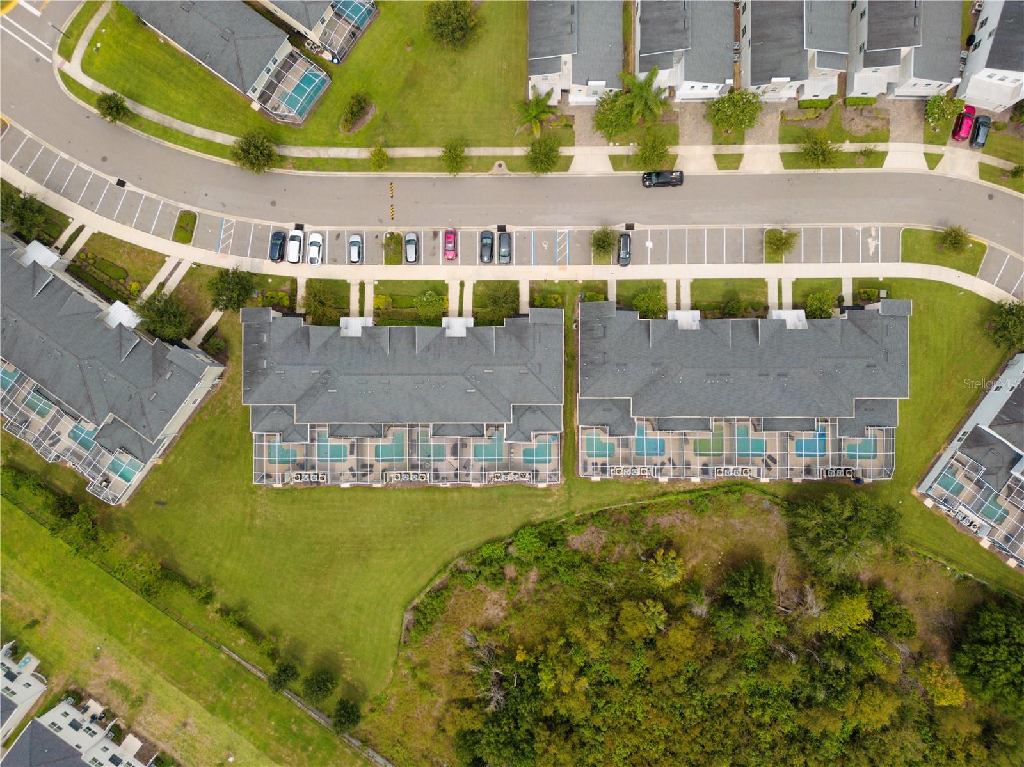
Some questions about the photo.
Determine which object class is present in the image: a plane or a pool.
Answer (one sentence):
I can see a pool in this picture.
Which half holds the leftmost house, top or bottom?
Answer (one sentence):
The leftmost house is in the bottom half of the image.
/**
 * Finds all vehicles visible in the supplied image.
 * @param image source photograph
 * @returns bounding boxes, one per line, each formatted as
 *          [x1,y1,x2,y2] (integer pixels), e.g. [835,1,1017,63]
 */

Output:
[954,105,979,141]
[479,229,494,263]
[402,230,417,263]
[306,232,322,266]
[267,229,285,263]
[618,232,634,266]
[972,113,996,148]
[497,231,512,264]
[285,228,303,264]
[443,227,457,261]
[643,168,686,187]
[346,232,362,264]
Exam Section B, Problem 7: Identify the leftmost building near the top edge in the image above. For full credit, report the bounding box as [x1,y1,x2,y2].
[111,0,298,108]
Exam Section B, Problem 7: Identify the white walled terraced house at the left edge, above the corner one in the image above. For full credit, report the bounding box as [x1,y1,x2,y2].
[0,649,47,754]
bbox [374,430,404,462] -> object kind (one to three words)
swimming pool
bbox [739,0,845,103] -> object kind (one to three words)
house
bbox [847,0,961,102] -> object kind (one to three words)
house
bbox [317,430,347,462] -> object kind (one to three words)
swimming pool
